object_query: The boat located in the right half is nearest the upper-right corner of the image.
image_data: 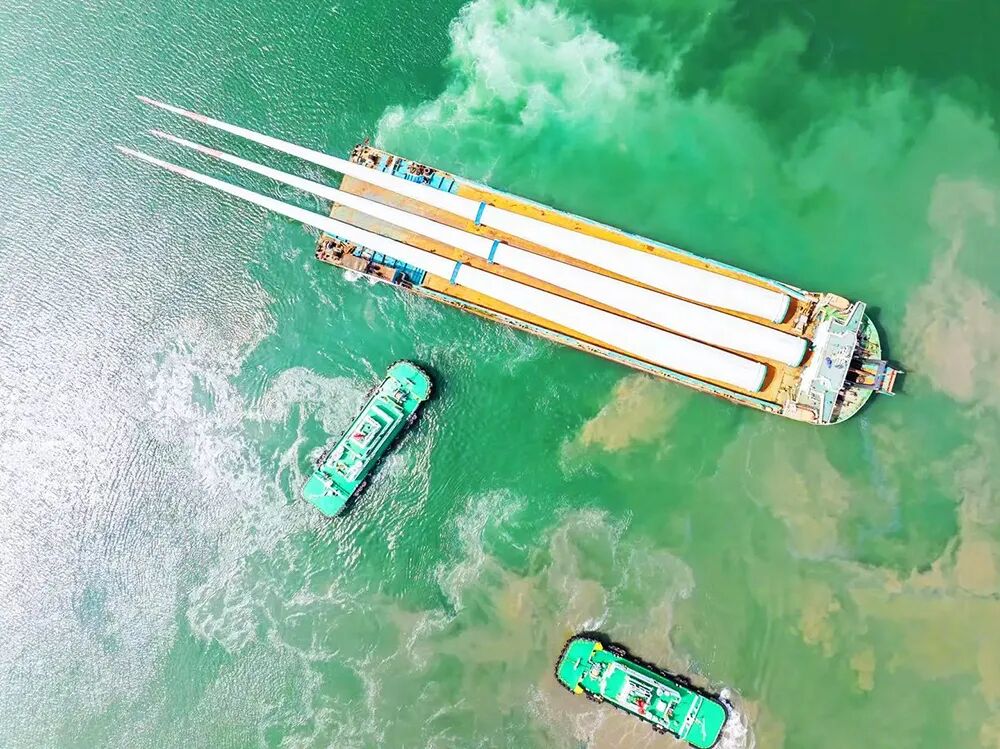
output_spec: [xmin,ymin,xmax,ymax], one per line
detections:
[824,295,848,308]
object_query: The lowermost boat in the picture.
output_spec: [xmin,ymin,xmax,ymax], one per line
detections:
[555,631,726,746]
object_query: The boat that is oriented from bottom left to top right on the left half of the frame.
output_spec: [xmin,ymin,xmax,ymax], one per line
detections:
[303,356,438,515]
